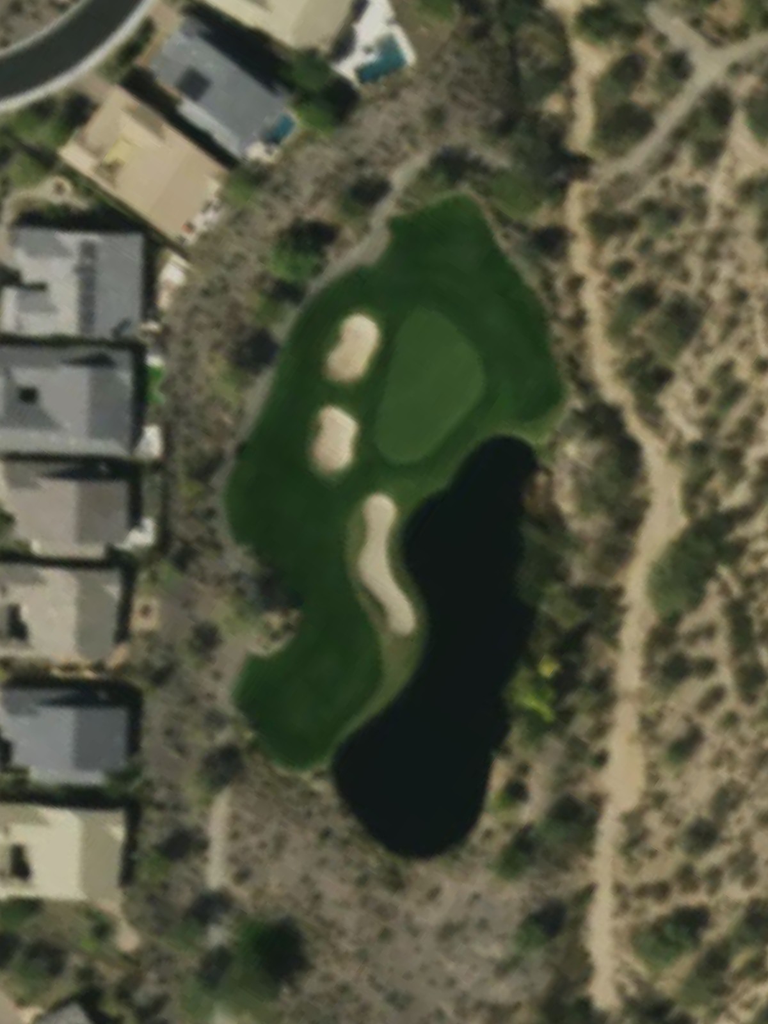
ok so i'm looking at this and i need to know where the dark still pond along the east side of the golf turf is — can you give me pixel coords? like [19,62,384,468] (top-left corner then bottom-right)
[330,433,542,860]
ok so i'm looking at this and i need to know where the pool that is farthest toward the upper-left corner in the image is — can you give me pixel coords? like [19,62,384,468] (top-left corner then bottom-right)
[262,113,297,146]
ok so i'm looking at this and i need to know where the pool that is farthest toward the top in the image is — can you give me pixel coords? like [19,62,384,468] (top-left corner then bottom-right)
[355,34,409,83]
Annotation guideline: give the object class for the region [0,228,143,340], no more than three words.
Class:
house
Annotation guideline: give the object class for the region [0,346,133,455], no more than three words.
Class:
house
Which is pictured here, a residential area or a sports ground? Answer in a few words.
residential area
